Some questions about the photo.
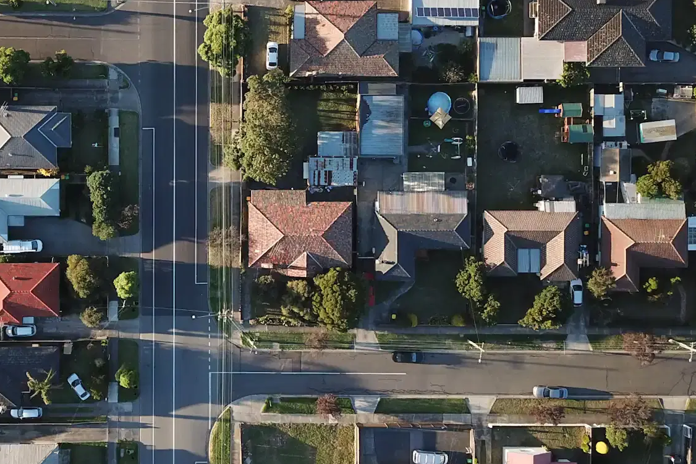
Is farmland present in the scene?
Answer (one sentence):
No, there's no farmland in this view.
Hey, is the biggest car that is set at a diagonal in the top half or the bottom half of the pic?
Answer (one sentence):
The biggest car that is set at a diagonal sits in the bottom half of the picture.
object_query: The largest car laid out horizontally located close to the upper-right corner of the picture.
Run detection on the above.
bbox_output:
[646,49,680,64]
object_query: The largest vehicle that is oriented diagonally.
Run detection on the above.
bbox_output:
[66,370,91,404]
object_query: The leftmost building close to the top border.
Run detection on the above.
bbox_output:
[288,0,411,78]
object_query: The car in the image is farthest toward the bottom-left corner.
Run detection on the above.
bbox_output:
[10,405,44,421]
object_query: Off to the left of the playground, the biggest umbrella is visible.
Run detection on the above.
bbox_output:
[427,108,449,131]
